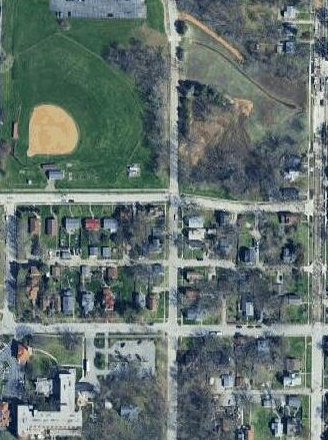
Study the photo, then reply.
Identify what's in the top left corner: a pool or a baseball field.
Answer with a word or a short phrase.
baseball field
